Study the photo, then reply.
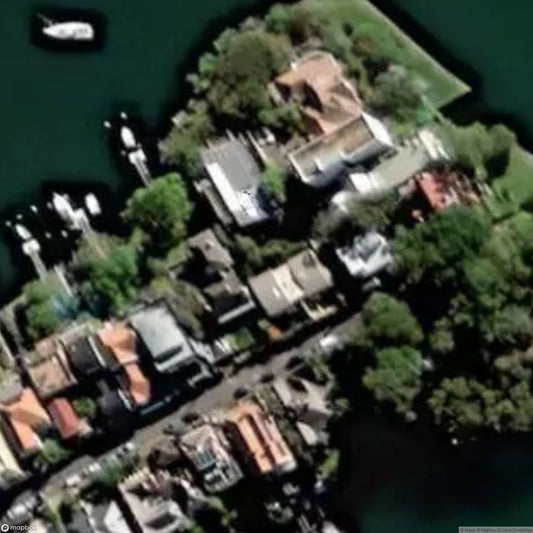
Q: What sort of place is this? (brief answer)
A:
residential area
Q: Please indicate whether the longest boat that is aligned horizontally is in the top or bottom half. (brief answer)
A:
top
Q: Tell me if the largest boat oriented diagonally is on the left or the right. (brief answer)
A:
left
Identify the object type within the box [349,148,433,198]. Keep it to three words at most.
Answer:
building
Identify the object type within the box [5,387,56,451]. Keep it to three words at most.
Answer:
house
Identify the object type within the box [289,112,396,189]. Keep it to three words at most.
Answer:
house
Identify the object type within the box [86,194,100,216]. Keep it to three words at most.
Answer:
boat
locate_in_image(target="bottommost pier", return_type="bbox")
[22,239,48,280]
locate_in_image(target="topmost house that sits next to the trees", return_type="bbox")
[268,50,363,132]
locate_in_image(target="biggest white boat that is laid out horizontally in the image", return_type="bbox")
[40,18,92,39]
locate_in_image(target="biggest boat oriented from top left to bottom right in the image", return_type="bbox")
[54,194,76,222]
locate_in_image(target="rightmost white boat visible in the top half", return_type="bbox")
[122,128,136,148]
